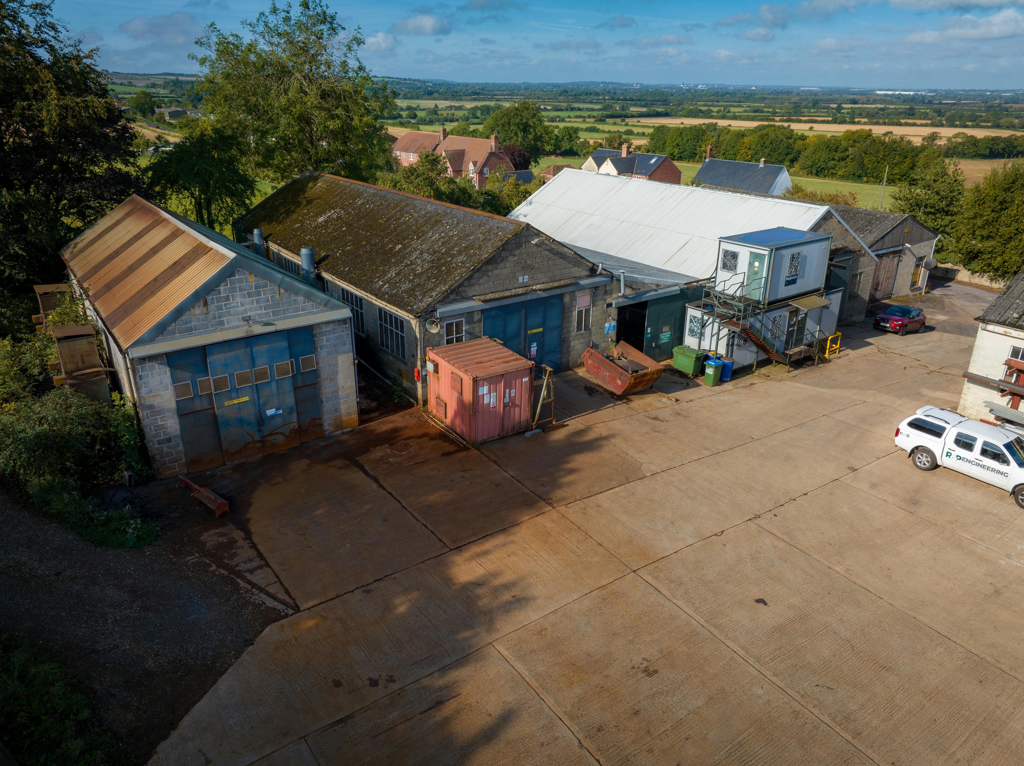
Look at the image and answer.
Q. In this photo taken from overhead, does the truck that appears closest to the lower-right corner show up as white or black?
white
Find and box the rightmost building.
[957,261,1024,423]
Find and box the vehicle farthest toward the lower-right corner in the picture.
[890,402,1024,511]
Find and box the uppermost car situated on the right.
[874,304,929,336]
